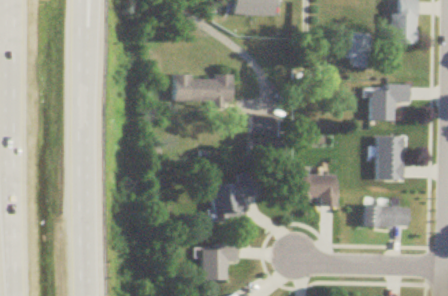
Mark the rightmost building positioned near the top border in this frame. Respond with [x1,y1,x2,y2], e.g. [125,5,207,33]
[390,0,421,45]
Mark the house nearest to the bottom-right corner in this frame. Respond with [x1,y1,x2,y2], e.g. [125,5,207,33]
[363,206,412,230]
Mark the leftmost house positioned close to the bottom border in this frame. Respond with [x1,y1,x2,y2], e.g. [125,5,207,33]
[203,247,240,282]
